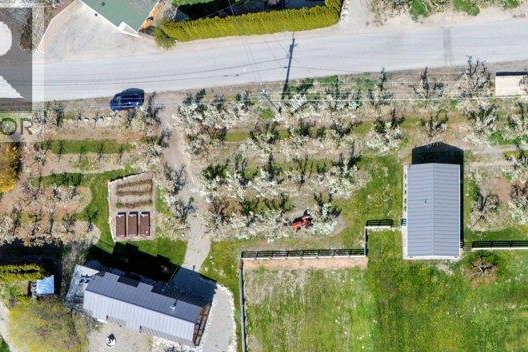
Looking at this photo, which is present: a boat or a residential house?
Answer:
residential house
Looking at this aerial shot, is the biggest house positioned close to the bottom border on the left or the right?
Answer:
left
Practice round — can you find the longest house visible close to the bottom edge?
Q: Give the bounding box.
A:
[79,272,218,350]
